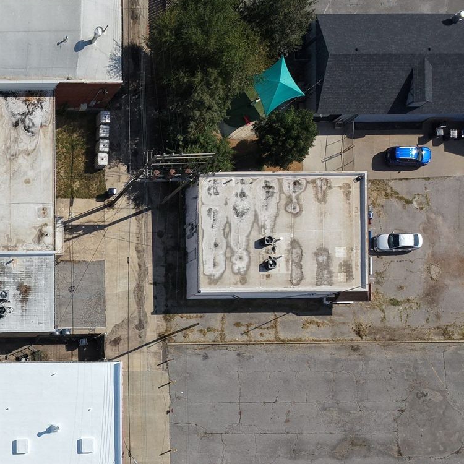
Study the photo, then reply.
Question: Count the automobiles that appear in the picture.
2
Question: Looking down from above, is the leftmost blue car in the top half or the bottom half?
top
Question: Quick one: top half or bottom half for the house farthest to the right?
top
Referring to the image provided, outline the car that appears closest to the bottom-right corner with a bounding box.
[370,230,425,254]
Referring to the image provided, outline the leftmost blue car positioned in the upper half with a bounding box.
[384,143,433,169]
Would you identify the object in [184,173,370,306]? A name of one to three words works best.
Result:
building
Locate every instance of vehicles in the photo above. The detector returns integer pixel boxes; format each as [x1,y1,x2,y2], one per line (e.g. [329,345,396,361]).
[384,143,433,169]
[370,230,425,254]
